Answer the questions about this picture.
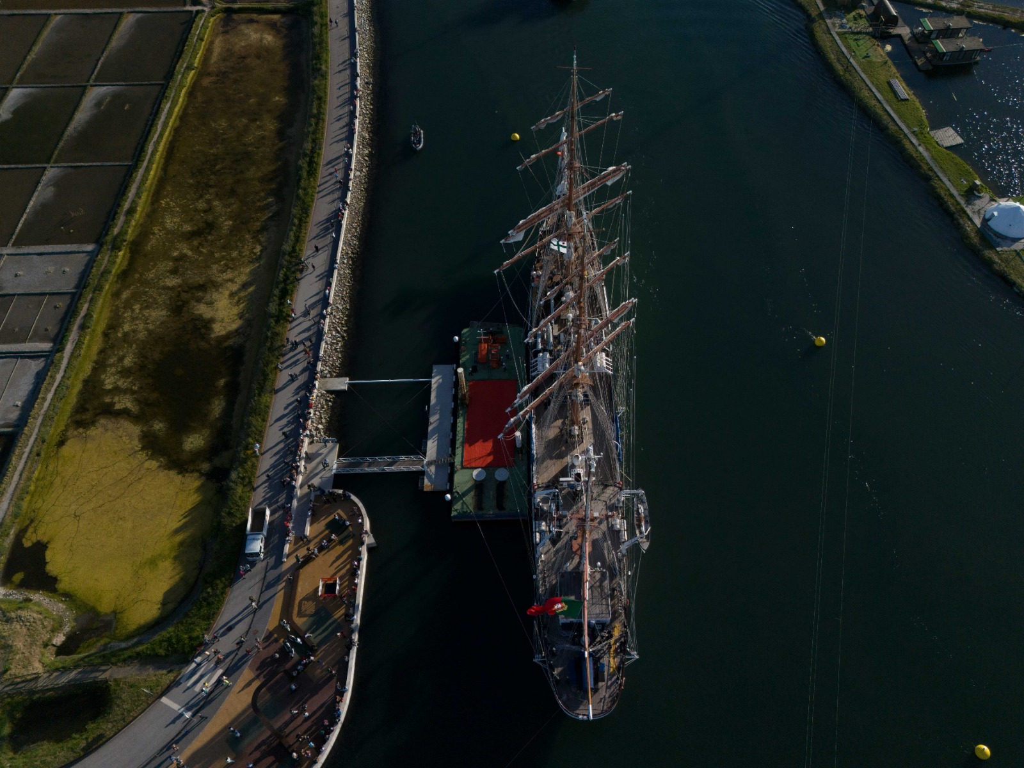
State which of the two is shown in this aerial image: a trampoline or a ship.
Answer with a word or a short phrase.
ship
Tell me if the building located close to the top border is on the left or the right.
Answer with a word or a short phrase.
right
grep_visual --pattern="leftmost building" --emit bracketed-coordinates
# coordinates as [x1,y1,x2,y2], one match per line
[866,0,905,28]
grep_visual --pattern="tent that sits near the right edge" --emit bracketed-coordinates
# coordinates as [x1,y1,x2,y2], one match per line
[987,198,1024,241]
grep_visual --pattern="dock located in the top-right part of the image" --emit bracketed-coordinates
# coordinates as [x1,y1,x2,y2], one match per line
[869,23,934,71]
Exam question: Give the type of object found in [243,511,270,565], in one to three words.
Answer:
truck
